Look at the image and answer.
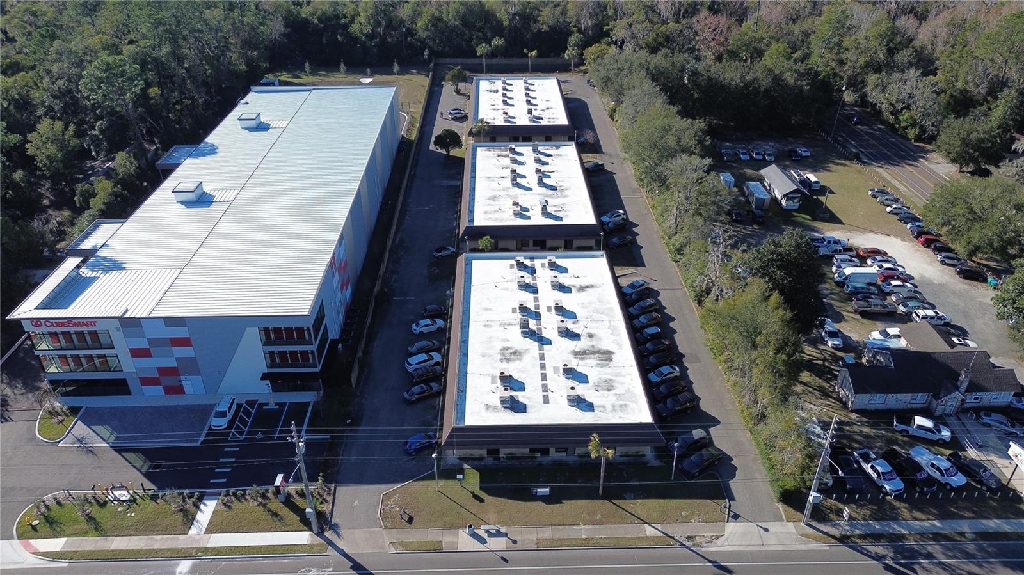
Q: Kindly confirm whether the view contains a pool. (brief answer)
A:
No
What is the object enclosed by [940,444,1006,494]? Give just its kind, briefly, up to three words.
truck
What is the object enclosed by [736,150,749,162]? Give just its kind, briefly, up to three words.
vehicle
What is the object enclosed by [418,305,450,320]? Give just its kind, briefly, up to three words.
car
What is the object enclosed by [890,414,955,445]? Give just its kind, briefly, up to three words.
truck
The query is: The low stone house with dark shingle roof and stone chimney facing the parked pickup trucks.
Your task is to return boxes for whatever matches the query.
[833,317,1024,417]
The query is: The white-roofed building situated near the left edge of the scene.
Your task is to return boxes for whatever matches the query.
[3,83,404,394]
